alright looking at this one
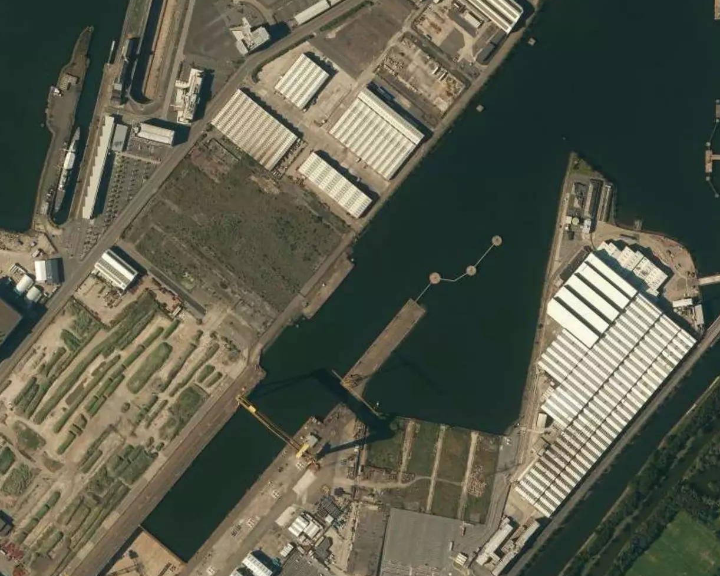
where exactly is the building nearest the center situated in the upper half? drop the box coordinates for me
[298,153,372,218]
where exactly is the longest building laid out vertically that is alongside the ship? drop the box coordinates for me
[82,115,114,219]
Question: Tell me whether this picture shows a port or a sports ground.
port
